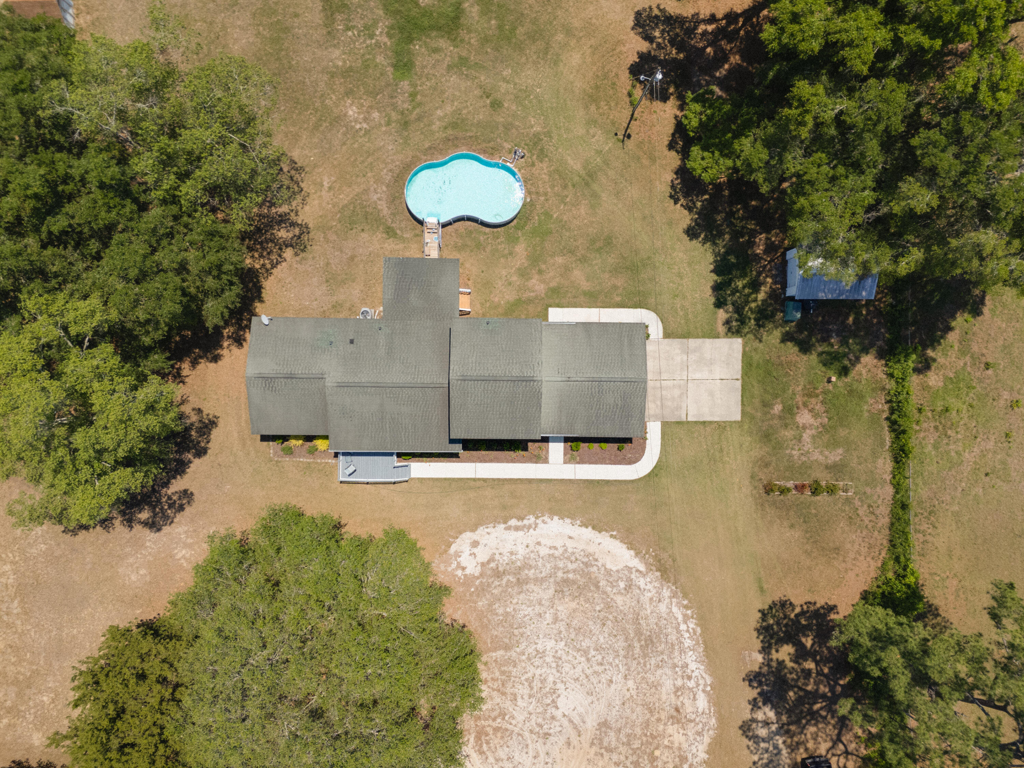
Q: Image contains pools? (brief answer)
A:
Yes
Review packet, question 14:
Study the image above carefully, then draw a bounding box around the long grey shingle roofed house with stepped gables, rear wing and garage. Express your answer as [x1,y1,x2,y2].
[246,257,647,453]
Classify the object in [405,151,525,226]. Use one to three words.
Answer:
swimming pool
